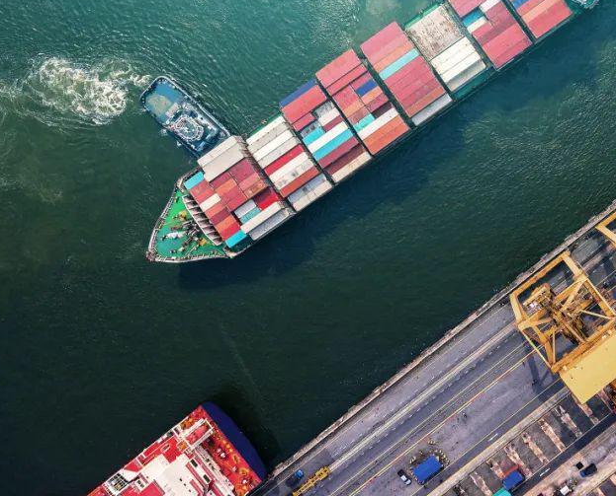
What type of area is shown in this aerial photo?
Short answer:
port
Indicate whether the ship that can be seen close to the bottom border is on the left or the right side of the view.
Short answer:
left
